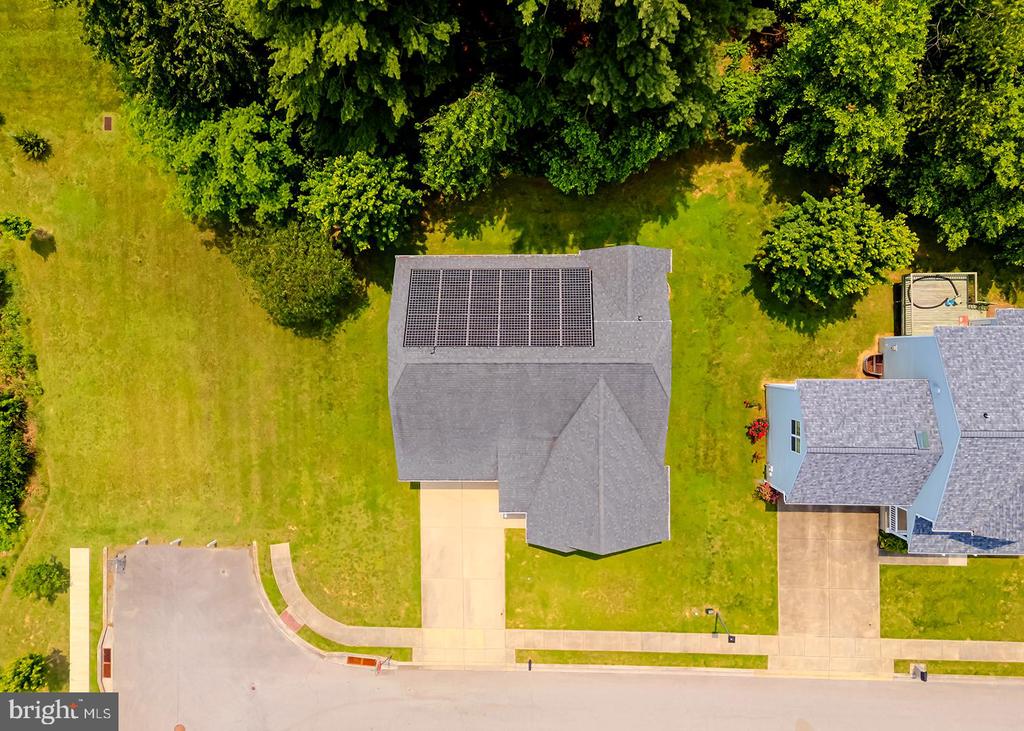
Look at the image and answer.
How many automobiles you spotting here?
0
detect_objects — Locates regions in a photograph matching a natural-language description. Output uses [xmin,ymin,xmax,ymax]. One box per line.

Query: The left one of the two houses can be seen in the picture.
[389,244,672,554]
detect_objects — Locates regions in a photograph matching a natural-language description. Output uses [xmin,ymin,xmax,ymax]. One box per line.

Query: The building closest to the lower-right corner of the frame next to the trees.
[765,309,1024,554]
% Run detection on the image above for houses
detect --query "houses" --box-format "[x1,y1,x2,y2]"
[765,309,1024,554]
[389,244,672,554]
